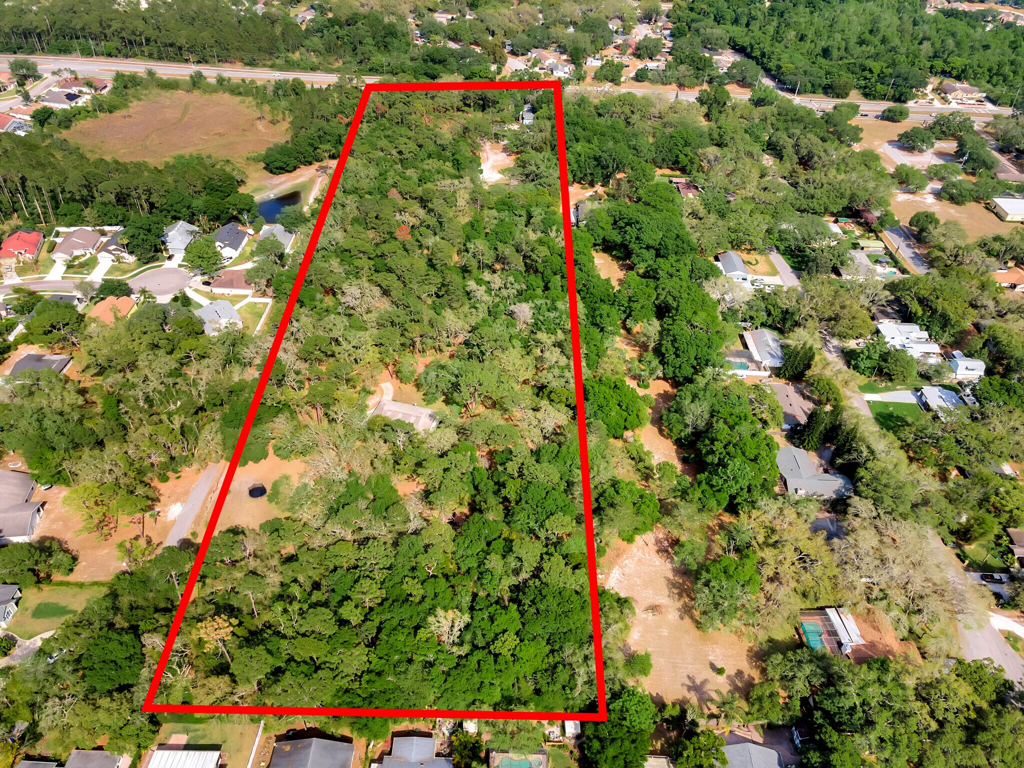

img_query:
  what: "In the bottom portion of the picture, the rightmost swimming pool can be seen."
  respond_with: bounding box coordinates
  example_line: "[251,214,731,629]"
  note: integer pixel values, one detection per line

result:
[800,611,843,653]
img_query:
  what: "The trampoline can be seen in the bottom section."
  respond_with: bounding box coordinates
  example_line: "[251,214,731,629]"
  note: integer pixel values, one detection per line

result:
[246,481,267,501]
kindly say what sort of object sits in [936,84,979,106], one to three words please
house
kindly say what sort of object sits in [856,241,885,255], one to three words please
shed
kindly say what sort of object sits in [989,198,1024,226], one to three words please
building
